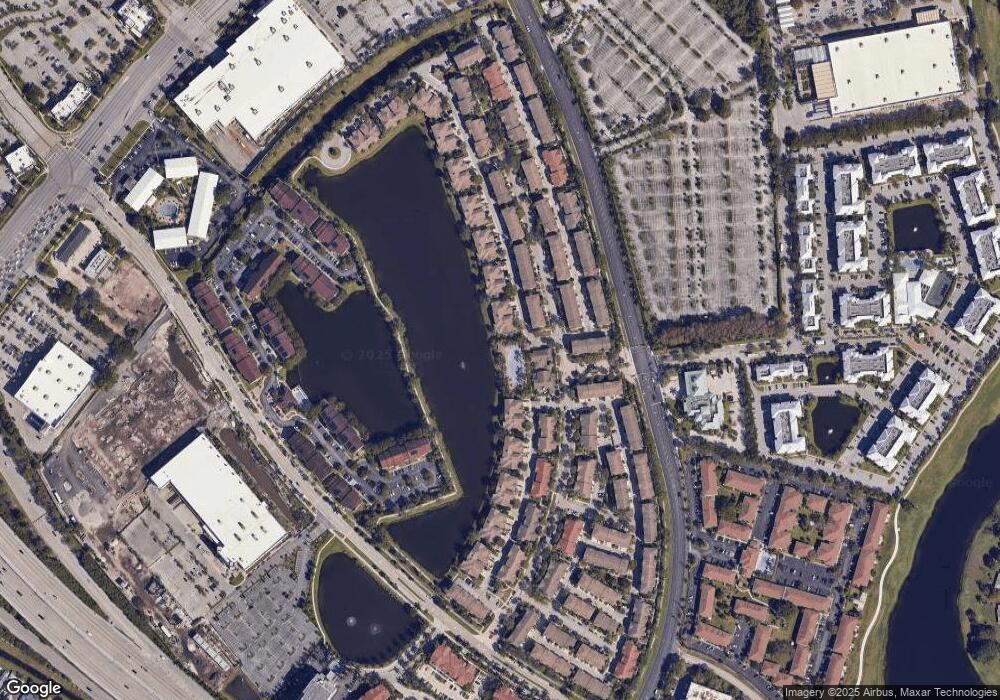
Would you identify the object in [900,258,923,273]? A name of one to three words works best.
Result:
swimming pool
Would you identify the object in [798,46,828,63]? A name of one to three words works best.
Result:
greenhouse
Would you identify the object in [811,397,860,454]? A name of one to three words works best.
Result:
pond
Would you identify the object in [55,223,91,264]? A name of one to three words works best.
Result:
building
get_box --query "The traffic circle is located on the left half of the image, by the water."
[320,138,352,169]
